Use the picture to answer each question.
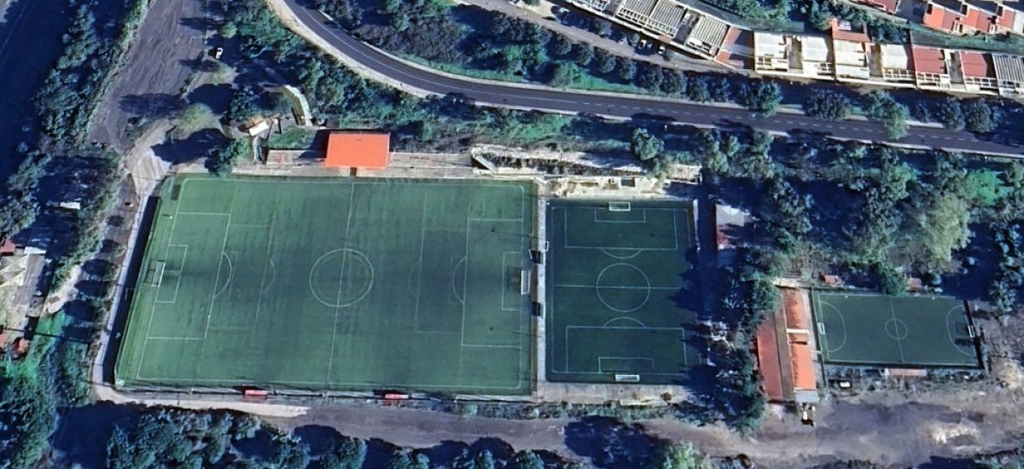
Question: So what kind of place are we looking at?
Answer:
sports ground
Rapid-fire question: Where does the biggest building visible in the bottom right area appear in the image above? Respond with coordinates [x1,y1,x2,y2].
[756,289,822,403]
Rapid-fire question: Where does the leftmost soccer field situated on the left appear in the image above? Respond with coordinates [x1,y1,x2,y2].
[117,176,534,396]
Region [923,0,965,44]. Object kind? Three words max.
house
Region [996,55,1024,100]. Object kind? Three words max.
house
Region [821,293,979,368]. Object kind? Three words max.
sports court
